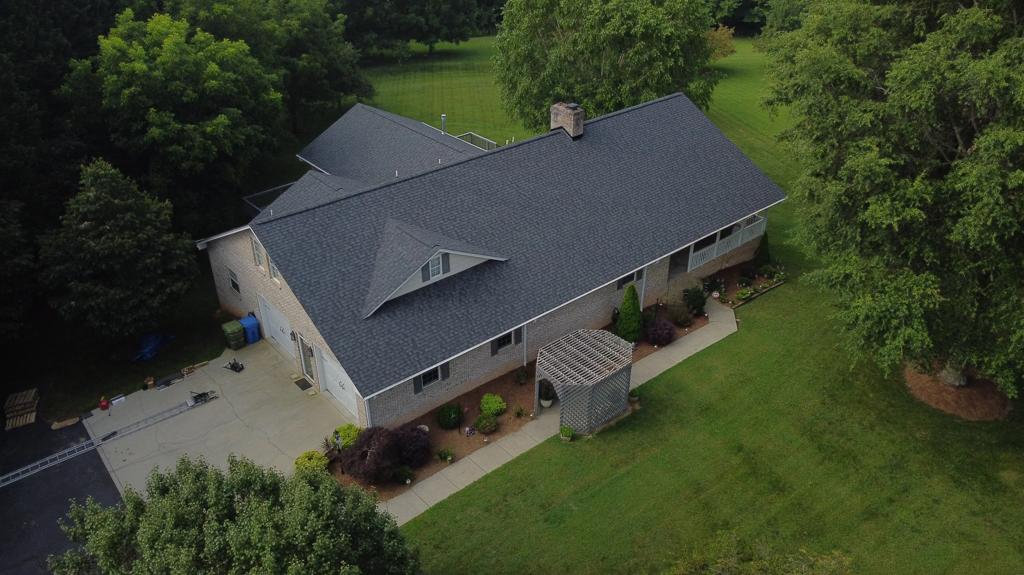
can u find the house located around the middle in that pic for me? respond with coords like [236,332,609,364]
[194,93,787,430]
